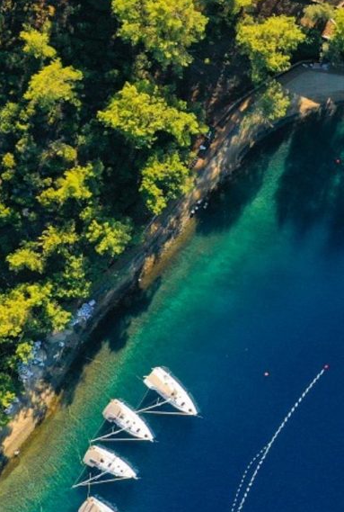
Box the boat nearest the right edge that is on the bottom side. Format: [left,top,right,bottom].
[130,357,195,416]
